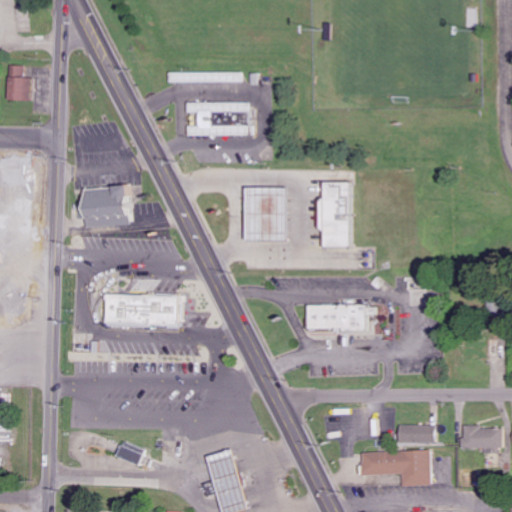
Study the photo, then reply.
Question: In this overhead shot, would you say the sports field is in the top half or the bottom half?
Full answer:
It is in the top half that the sports field appears.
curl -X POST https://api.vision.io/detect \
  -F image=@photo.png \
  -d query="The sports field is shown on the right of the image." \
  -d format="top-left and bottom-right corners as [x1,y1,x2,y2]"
[336,0,472,97]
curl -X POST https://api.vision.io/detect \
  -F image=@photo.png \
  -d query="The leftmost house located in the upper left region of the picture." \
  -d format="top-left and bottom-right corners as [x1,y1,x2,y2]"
[6,65,36,102]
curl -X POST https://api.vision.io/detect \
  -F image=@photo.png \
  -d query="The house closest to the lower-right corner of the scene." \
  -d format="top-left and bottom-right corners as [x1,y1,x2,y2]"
[460,425,502,450]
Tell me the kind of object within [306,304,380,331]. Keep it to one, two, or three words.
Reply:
building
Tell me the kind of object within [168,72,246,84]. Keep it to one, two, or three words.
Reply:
shed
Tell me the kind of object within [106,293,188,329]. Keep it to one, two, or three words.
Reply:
building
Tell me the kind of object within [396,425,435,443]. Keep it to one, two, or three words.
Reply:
house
